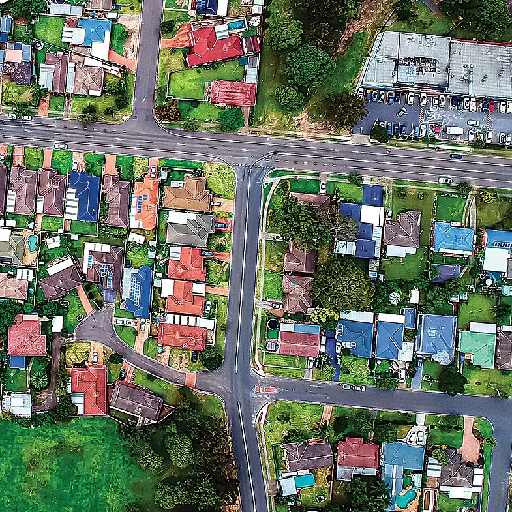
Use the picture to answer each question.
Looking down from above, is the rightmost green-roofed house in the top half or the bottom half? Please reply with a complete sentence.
It is in the bottom half that the rightmost green-roofed house appears.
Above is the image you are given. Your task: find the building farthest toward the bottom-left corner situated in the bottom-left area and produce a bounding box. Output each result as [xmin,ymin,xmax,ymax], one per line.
[1,391,31,418]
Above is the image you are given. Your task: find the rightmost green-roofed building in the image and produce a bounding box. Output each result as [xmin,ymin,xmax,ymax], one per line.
[456,322,497,366]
